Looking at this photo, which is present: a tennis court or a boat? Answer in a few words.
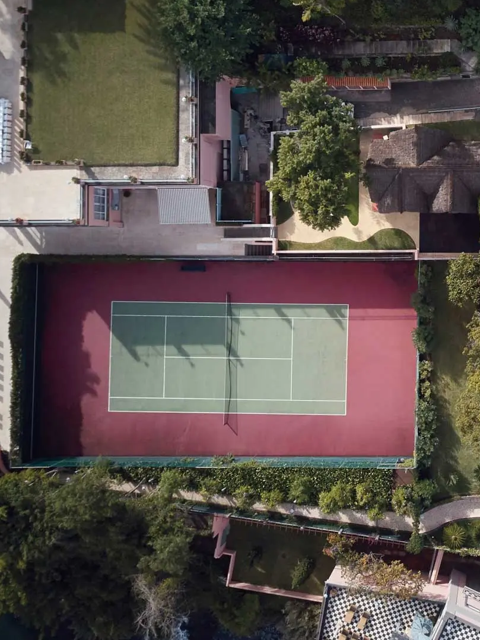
tennis court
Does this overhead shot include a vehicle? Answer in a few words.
No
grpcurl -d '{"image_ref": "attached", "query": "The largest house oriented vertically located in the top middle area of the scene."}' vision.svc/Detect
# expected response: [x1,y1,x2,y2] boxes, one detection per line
[200,78,245,190]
